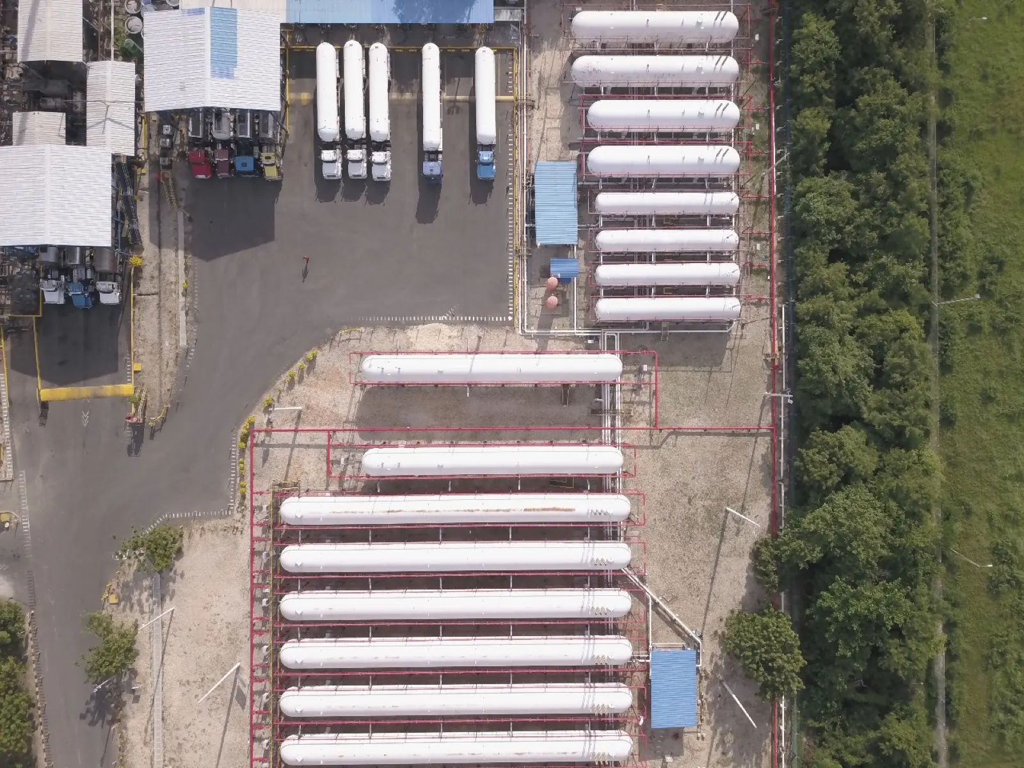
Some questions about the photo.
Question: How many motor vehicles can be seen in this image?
12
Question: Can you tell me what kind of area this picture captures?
industrial area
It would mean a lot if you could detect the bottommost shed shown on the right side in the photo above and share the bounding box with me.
[648,644,696,728]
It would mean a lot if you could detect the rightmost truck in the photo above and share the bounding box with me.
[473,45,498,181]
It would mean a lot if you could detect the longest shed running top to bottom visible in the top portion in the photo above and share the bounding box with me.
[535,161,577,248]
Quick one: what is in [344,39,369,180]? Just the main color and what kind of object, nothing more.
white truck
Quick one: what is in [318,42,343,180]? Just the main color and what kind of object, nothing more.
white truck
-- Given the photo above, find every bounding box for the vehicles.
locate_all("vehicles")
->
[318,42,343,180]
[85,176,121,305]
[35,247,66,305]
[473,45,498,181]
[344,39,369,180]
[419,42,444,192]
[209,69,236,180]
[62,247,93,310]
[185,100,213,179]
[368,43,394,182]
[230,109,257,178]
[255,102,282,181]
